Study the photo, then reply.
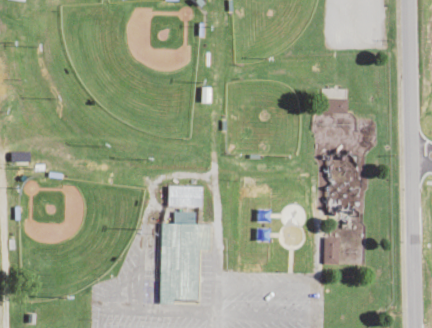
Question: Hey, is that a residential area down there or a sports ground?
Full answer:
This image shows a sports ground.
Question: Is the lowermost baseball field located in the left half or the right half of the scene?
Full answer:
It is on the left.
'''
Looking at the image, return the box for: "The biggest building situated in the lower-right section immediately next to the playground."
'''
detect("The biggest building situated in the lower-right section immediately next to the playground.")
[324,238,340,264]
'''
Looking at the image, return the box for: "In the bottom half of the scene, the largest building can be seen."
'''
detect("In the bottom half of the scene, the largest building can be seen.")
[161,222,212,303]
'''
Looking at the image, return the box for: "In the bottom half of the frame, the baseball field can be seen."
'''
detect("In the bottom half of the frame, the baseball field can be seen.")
[20,177,144,299]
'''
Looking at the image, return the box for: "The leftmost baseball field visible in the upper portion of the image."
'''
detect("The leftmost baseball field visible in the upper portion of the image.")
[62,0,199,138]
